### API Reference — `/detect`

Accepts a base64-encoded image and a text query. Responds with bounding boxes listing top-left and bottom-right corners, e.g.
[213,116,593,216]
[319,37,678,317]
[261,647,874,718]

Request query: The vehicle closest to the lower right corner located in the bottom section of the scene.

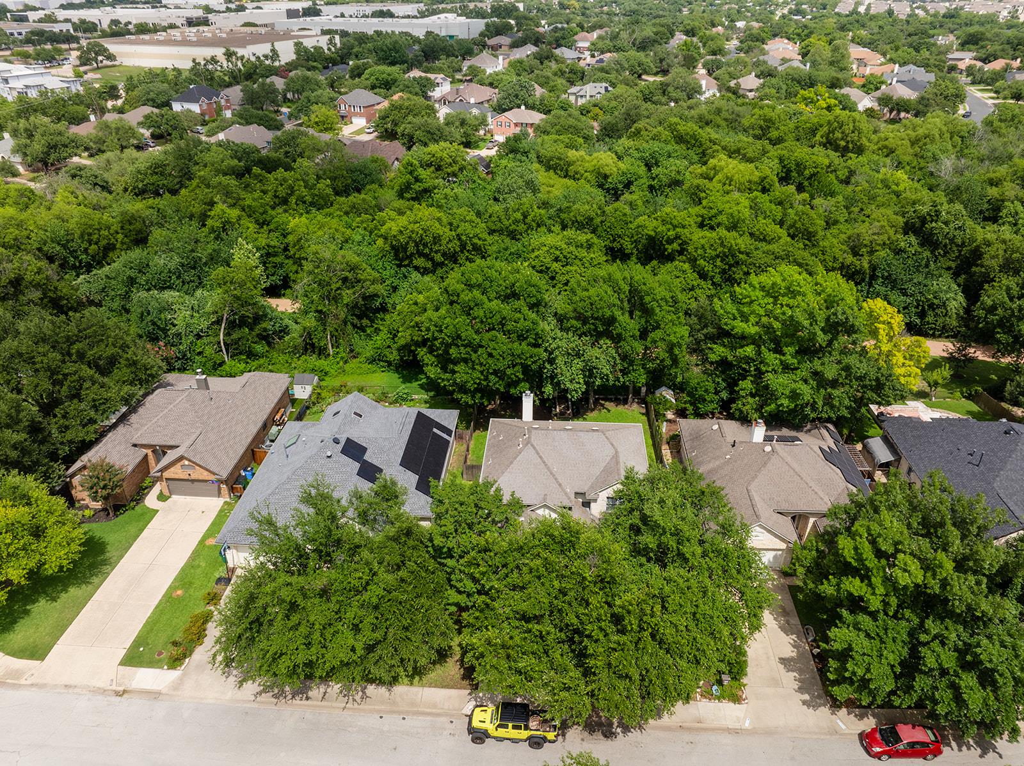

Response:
[862,719,951,762]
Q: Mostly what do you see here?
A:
trees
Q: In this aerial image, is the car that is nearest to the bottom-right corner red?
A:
Yes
